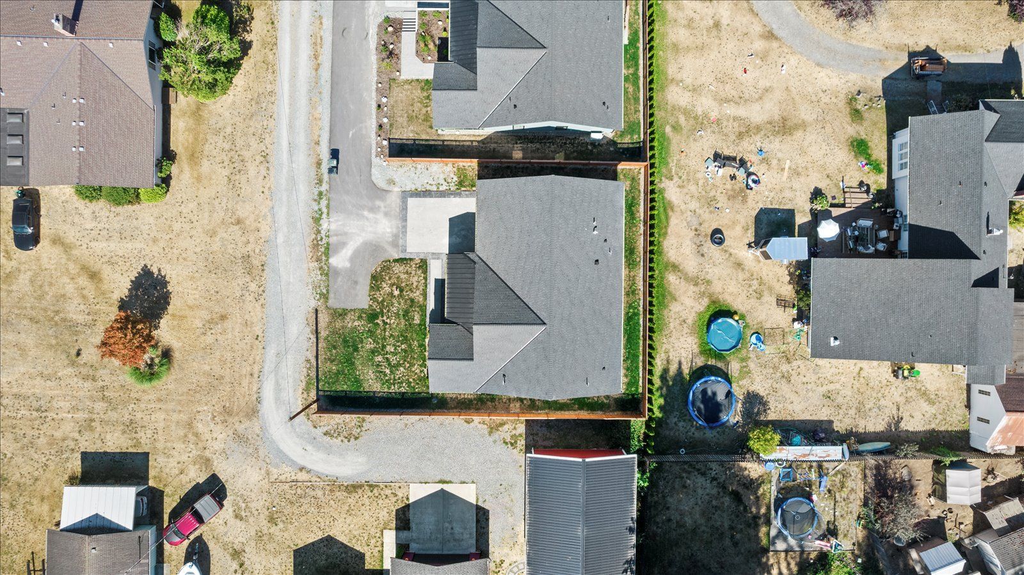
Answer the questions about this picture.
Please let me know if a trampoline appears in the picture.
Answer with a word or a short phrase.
Yes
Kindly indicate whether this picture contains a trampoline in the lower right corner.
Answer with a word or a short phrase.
Yes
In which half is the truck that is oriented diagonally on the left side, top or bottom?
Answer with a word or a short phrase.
bottom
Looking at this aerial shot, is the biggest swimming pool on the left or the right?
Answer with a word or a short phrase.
right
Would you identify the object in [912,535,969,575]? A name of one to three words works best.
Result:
shed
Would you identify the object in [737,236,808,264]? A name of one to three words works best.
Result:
trailer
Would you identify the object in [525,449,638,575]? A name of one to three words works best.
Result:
barn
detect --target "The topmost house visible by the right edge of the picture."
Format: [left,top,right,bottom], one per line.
[801,99,1024,386]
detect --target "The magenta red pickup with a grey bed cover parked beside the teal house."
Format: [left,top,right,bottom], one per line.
[161,490,227,543]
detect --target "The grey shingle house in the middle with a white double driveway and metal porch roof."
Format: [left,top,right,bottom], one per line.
[426,174,625,399]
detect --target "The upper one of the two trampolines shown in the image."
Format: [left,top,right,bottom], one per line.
[686,376,743,429]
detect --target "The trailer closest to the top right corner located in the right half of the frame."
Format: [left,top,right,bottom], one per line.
[916,50,959,80]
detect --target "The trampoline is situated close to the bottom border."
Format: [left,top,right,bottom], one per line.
[773,493,828,548]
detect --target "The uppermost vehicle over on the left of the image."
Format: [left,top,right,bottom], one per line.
[7,192,40,250]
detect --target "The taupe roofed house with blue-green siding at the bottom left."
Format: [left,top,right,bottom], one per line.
[46,523,164,575]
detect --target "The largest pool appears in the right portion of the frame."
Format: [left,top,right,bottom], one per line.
[707,315,746,353]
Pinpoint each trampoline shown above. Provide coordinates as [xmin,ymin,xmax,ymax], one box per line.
[773,493,828,548]
[686,376,743,429]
